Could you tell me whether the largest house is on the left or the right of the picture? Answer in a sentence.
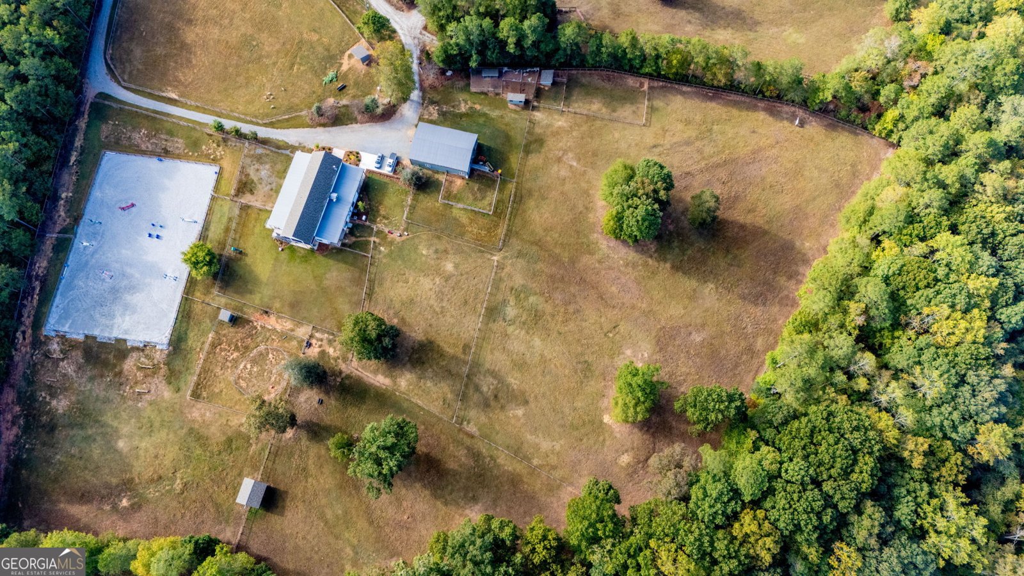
The largest house is on the left side of the image.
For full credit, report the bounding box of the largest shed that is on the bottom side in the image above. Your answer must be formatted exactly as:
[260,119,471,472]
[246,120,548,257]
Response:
[236,477,269,508]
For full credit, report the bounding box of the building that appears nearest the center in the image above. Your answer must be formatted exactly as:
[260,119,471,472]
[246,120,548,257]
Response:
[409,122,478,177]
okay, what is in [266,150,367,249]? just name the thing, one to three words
house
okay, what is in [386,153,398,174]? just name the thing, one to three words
vehicle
